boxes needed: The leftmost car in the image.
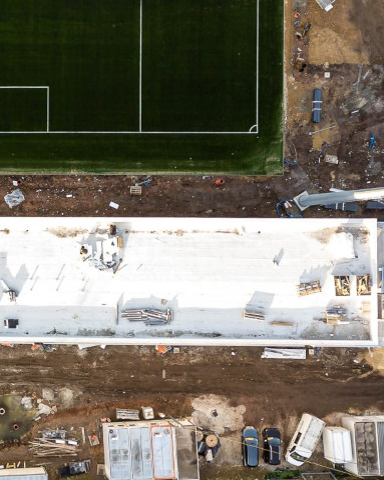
[240,425,262,467]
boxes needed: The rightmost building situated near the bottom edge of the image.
[168,420,199,480]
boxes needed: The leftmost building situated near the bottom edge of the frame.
[105,421,133,480]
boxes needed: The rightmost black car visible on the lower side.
[263,427,284,464]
